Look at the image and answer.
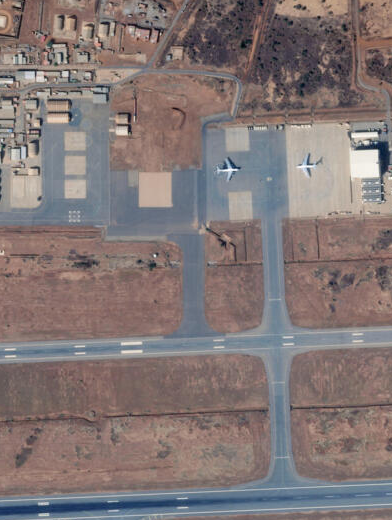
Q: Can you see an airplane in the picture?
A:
Yes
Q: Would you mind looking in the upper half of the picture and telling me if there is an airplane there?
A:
Yes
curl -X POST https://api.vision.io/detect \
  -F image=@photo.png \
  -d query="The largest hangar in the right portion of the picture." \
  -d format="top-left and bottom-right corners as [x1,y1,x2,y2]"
[352,149,380,177]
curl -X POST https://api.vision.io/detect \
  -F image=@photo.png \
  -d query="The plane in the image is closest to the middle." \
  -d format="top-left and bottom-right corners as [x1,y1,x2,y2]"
[216,159,240,181]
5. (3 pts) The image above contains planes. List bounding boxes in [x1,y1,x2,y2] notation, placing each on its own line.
[216,159,240,181]
[296,154,319,178]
